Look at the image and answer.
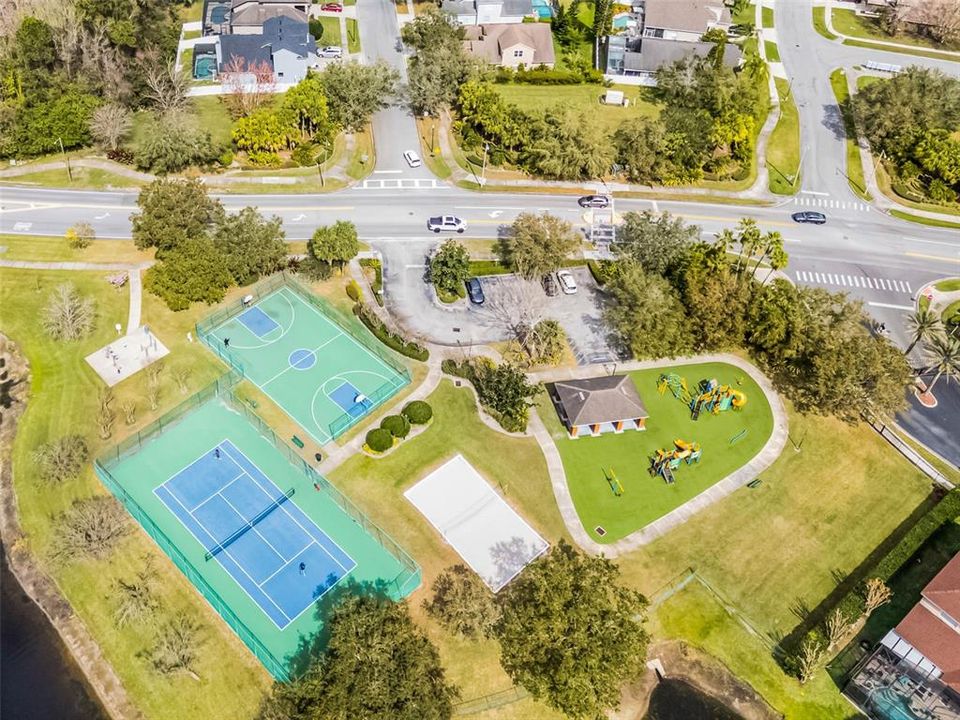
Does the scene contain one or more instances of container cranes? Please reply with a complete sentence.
No, no container crane is visible in the view.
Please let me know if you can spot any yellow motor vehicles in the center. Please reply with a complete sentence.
No, in the center there is no yellow motor vehicle.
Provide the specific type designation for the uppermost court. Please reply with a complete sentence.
What you see as the uppermost court is a basketball court.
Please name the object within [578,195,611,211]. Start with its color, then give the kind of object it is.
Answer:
gray car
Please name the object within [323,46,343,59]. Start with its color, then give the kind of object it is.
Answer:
white vehicle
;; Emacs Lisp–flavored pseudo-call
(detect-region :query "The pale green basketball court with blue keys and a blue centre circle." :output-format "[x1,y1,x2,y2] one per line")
[196,282,411,445]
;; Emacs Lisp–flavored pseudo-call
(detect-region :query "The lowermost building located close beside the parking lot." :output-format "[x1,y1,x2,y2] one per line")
[553,374,650,440]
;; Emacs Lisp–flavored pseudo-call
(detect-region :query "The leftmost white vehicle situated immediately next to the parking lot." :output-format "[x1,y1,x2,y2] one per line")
[426,217,467,233]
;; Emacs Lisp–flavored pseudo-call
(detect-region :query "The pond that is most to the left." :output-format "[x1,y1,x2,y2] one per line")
[0,536,112,720]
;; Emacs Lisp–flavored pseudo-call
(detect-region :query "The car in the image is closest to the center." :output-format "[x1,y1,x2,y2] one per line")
[467,277,487,303]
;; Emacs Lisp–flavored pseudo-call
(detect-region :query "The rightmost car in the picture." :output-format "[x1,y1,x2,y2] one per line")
[793,210,829,226]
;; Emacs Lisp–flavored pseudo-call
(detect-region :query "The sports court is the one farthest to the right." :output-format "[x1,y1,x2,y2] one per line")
[403,454,550,592]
